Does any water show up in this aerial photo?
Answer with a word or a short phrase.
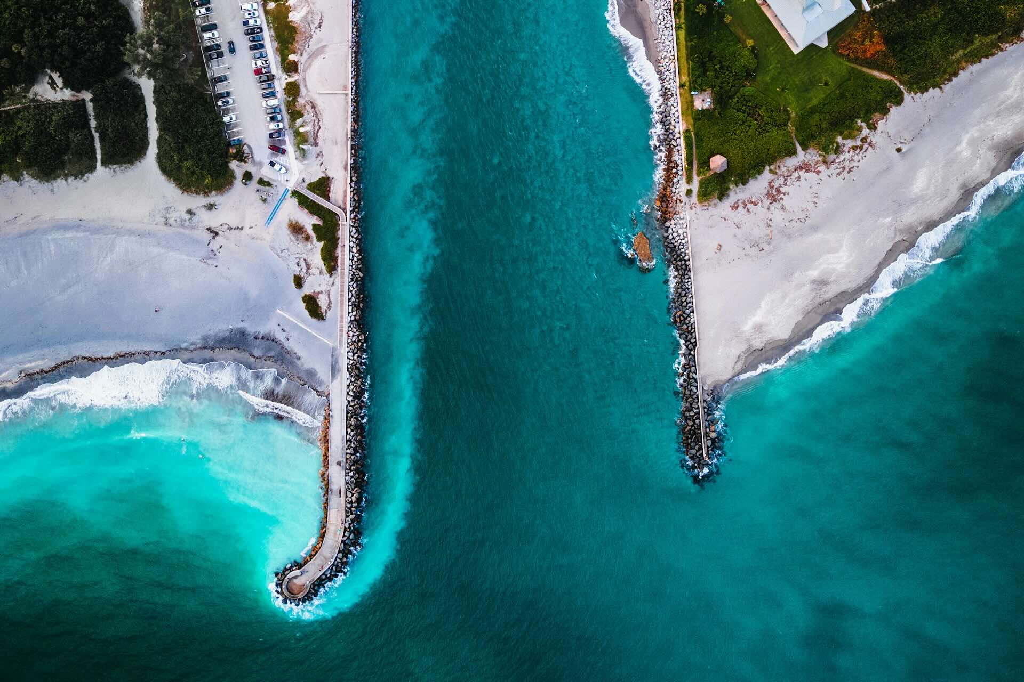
Yes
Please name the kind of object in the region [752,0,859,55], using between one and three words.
house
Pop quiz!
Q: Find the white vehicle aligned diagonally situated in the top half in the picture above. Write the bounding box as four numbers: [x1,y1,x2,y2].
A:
[267,158,288,175]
